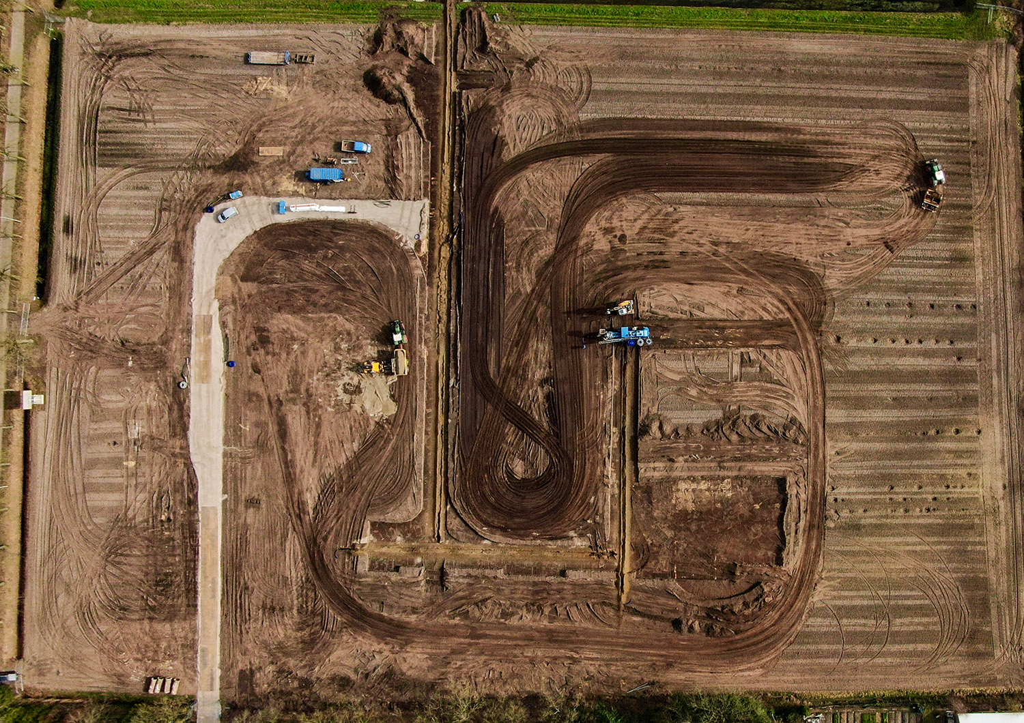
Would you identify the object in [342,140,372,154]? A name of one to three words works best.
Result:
vehicle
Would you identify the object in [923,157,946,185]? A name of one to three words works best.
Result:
work vehicle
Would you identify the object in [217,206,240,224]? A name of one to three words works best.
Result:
vehicle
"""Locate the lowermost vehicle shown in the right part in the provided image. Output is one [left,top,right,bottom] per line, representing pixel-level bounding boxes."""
[601,299,637,315]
